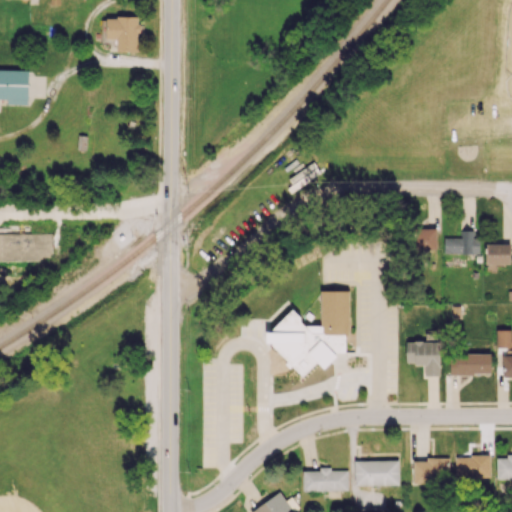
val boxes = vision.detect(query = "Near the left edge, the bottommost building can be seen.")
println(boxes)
[0,234,54,262]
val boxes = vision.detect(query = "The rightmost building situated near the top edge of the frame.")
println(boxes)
[102,16,146,52]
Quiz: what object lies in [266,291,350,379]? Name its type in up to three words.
building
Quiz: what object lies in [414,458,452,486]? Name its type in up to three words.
house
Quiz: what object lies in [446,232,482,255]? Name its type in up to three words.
house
